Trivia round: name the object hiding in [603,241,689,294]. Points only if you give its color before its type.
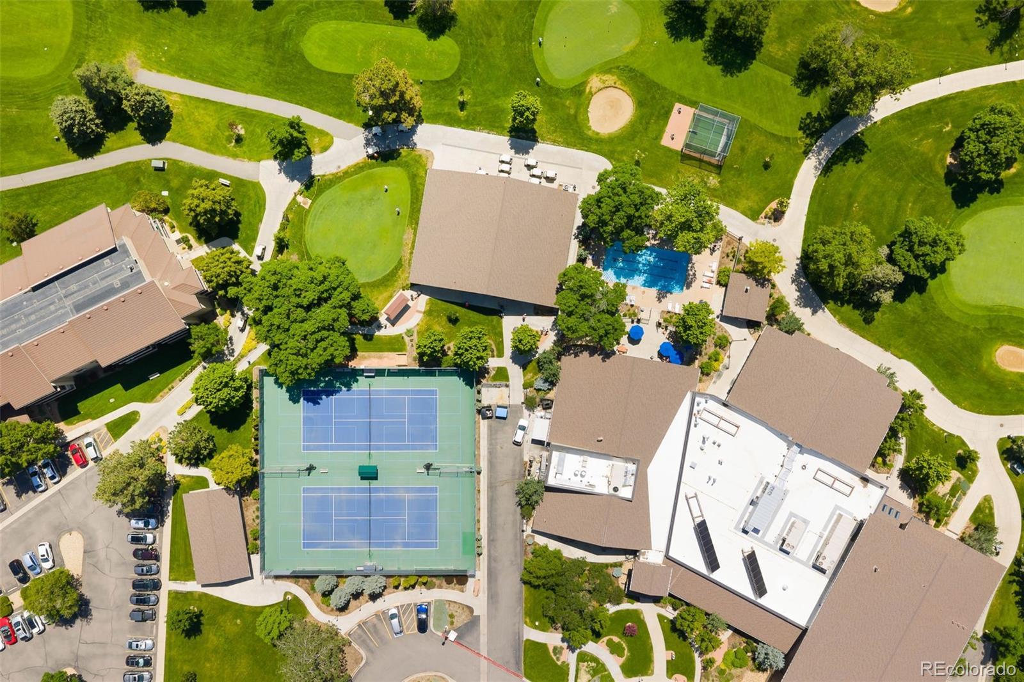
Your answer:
blue swimming pool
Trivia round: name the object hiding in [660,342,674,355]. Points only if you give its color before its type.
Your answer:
blue umbrella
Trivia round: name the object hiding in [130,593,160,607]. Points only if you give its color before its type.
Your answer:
gray car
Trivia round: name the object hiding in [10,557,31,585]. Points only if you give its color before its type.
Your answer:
black car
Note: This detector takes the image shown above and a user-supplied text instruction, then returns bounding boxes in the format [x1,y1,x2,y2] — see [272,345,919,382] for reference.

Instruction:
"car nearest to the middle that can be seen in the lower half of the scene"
[512,418,528,447]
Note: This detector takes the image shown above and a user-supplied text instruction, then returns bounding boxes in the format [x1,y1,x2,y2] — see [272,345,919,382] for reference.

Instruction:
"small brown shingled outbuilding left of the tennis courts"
[184,488,254,585]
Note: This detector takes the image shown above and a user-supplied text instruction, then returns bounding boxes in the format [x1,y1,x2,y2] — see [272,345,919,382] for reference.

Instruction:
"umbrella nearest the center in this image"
[629,325,643,339]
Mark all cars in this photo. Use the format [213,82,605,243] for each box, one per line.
[388,607,404,637]
[24,610,44,636]
[127,638,156,652]
[71,442,90,469]
[416,603,429,633]
[132,578,163,592]
[125,654,154,669]
[10,557,31,585]
[38,541,56,569]
[127,532,157,546]
[133,547,161,561]
[512,418,528,447]
[44,458,64,485]
[0,616,16,644]
[85,435,104,459]
[133,502,162,515]
[130,517,160,530]
[12,613,32,642]
[125,670,153,682]
[127,607,158,622]
[23,549,44,576]
[130,593,160,607]
[134,563,161,576]
[36,610,55,628]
